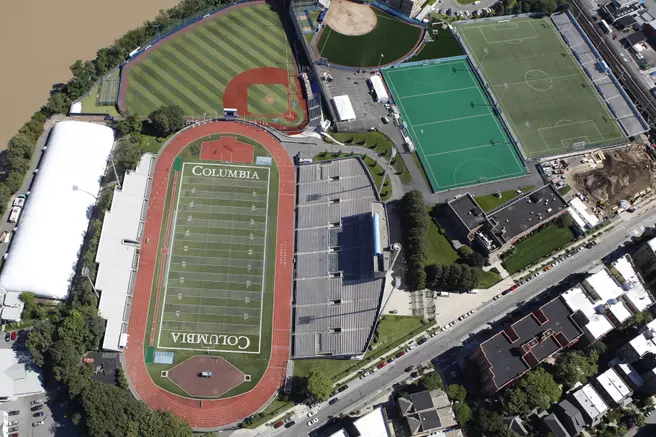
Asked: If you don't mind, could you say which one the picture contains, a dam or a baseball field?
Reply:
baseball field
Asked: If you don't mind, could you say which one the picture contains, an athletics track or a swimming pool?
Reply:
athletics track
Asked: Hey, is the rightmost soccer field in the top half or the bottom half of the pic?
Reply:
top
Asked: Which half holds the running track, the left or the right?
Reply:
left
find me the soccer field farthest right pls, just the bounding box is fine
[455,15,630,158]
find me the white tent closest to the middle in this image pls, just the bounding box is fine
[332,95,356,124]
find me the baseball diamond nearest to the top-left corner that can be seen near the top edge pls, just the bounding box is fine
[118,0,308,128]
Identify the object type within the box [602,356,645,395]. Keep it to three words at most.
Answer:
house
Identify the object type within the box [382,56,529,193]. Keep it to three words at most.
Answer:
sports field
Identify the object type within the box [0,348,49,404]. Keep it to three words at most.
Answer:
building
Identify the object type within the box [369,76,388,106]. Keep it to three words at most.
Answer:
tent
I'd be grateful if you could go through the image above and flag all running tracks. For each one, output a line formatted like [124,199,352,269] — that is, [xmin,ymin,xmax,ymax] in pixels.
[120,117,297,434]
